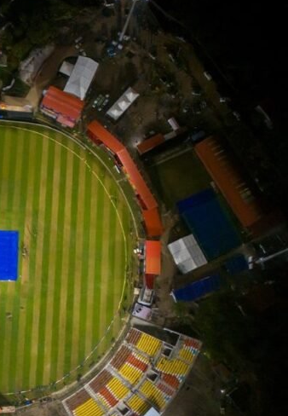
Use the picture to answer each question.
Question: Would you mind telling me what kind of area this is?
sports ground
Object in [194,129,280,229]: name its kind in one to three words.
building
